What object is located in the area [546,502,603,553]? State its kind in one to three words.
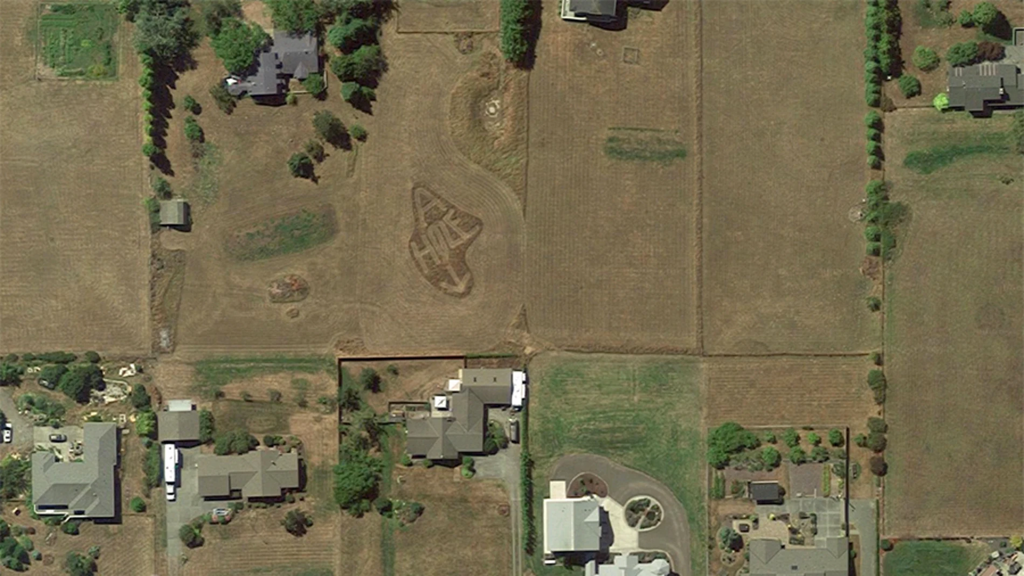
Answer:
barn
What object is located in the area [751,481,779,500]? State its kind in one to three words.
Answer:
shed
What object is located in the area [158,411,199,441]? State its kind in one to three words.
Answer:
building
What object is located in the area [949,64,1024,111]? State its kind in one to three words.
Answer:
house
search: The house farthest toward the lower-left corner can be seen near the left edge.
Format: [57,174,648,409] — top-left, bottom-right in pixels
[31,422,116,522]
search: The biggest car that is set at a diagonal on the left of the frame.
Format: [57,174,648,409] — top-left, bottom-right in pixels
[38,377,54,391]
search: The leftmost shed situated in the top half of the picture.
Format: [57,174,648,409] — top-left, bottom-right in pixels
[159,200,185,225]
